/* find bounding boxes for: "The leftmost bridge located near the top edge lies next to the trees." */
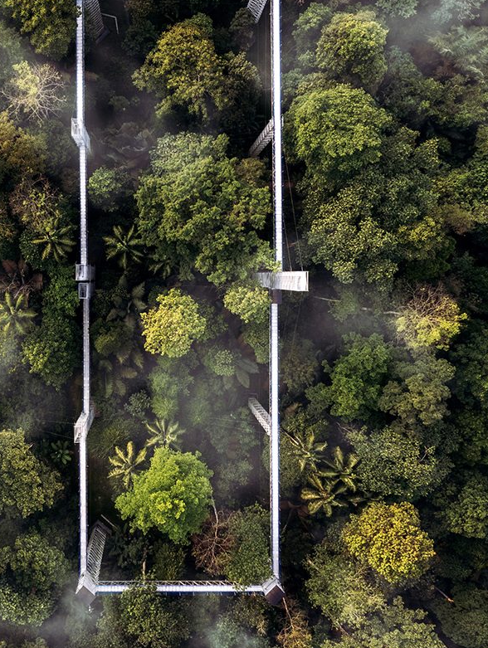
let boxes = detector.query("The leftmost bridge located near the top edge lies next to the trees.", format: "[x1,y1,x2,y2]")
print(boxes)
[74,0,86,122]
